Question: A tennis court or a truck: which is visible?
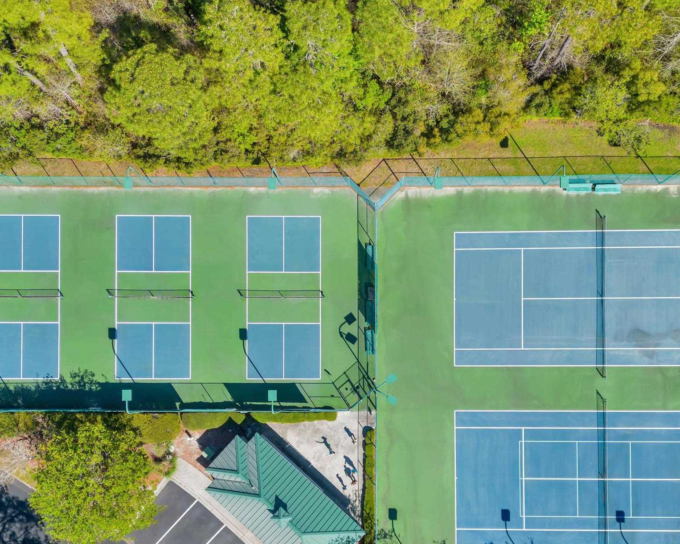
tennis court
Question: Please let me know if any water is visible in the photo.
No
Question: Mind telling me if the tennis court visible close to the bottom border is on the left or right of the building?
on the right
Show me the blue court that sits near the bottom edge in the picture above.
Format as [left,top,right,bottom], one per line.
[455,410,680,544]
